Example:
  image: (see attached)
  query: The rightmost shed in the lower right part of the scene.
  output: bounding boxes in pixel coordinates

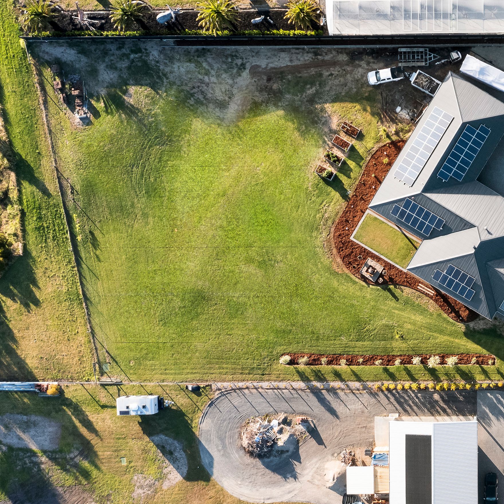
[389,418,478,504]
